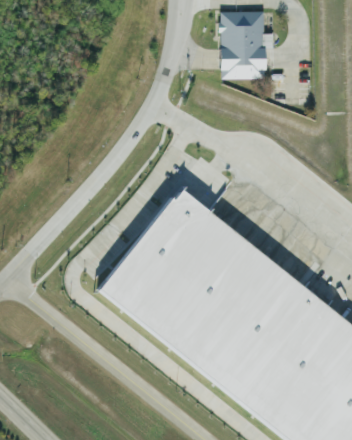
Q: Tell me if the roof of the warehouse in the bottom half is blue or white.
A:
white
